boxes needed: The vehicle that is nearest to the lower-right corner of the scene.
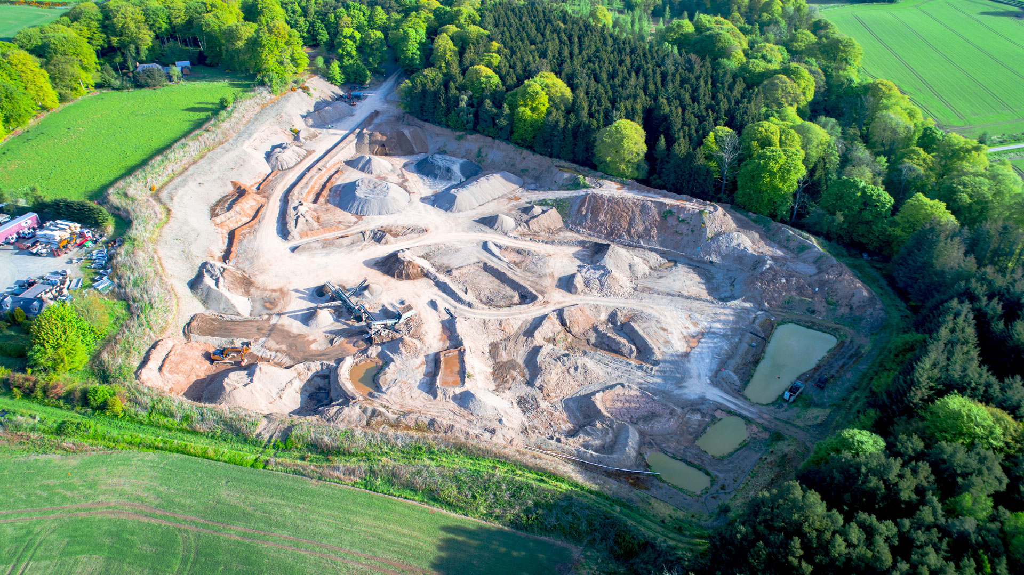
[783,376,808,403]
